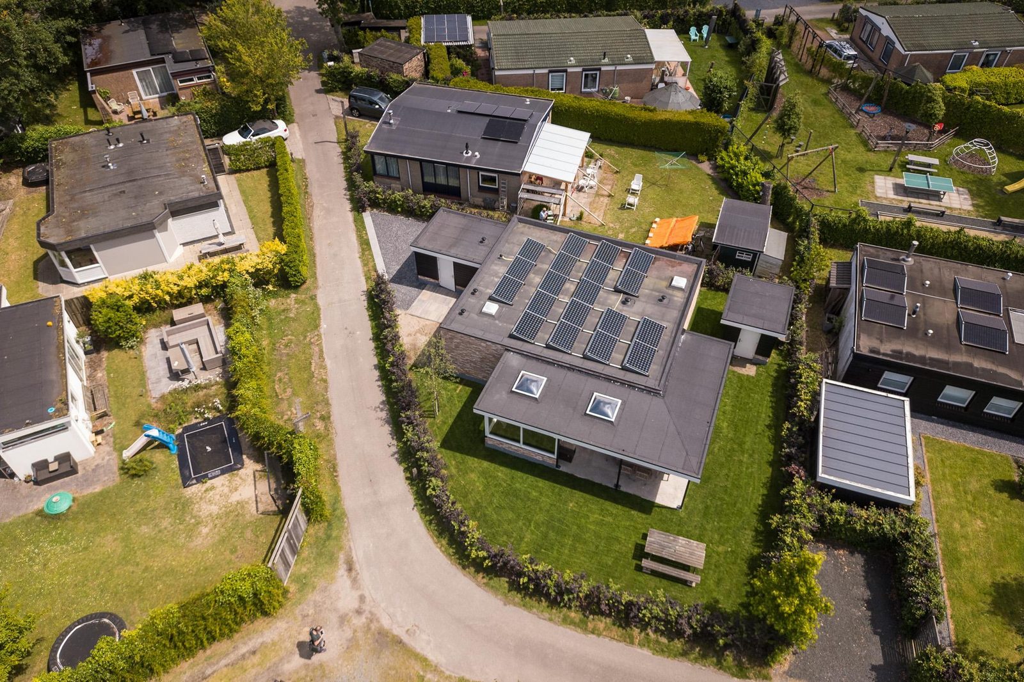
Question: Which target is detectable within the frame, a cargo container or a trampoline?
trampoline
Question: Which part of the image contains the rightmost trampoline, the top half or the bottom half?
bottom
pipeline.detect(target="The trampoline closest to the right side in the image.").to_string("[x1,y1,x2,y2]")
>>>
[179,417,246,491]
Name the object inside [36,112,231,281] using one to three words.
house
